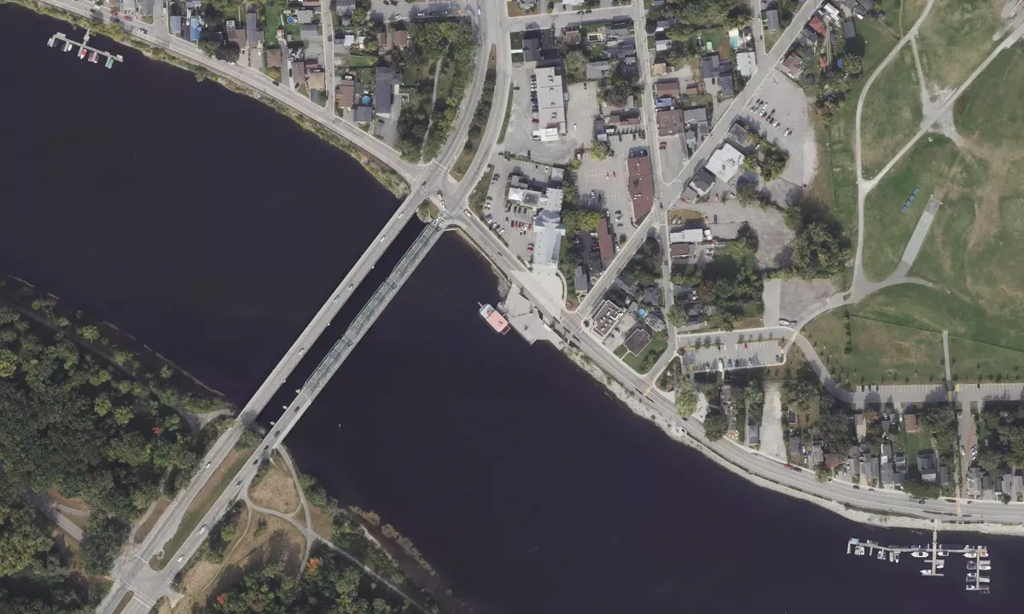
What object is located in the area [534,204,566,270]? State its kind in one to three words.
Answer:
building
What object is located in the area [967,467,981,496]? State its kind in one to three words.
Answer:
house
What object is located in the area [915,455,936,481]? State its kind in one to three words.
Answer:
house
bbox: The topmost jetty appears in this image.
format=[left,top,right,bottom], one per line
[52,28,125,68]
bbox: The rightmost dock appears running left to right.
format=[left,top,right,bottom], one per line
[846,526,988,589]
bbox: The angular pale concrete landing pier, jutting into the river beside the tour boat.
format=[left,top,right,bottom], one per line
[498,284,567,353]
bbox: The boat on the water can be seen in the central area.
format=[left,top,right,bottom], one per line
[478,304,510,333]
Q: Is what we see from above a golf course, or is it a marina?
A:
marina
